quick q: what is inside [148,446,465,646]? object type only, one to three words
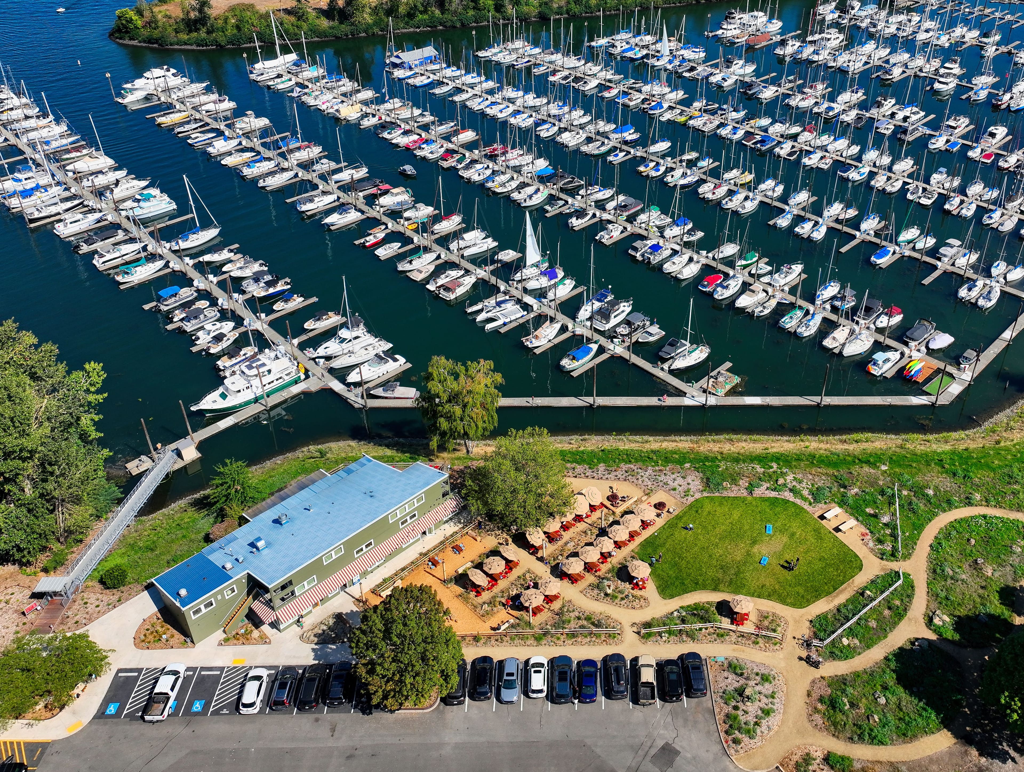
building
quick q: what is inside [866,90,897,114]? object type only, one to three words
boat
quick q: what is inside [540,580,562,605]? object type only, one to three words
umbrella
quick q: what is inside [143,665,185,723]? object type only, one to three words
truck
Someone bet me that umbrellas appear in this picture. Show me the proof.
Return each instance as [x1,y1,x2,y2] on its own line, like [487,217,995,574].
[540,580,562,605]
[582,492,602,513]
[607,528,628,543]
[629,565,651,588]
[570,501,591,522]
[561,560,583,583]
[467,573,489,596]
[542,520,563,535]
[636,508,657,530]
[619,518,640,540]
[521,592,544,616]
[484,559,506,583]
[526,532,546,554]
[595,540,616,562]
[578,549,600,572]
[499,548,521,571]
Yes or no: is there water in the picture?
Yes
